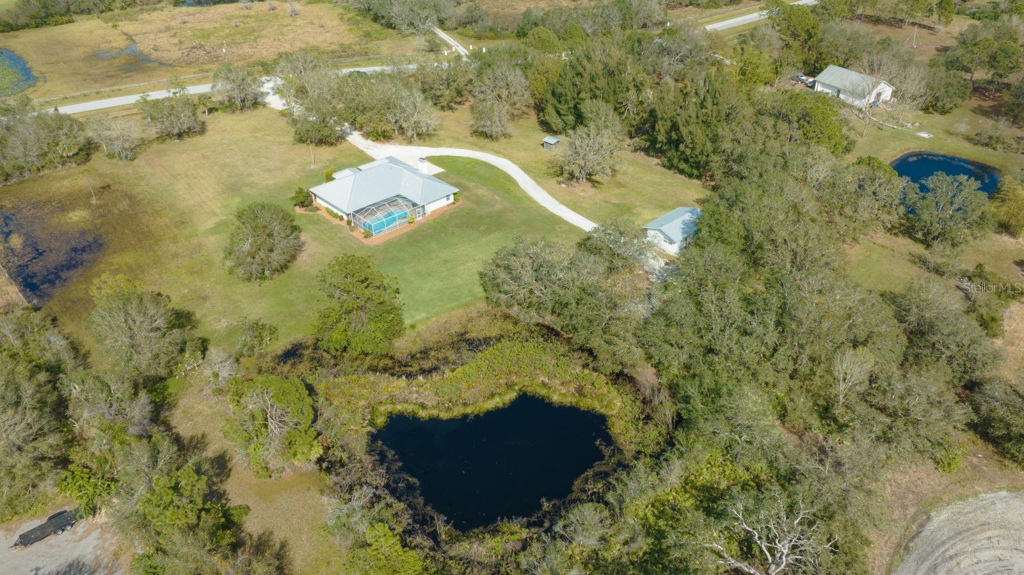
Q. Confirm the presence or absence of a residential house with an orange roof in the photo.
No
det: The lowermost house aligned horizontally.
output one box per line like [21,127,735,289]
[307,155,459,222]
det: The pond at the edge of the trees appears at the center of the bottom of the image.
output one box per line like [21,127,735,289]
[365,391,621,538]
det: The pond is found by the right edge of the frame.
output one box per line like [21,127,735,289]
[890,151,1002,214]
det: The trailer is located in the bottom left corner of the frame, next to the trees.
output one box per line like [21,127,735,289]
[0,505,86,548]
